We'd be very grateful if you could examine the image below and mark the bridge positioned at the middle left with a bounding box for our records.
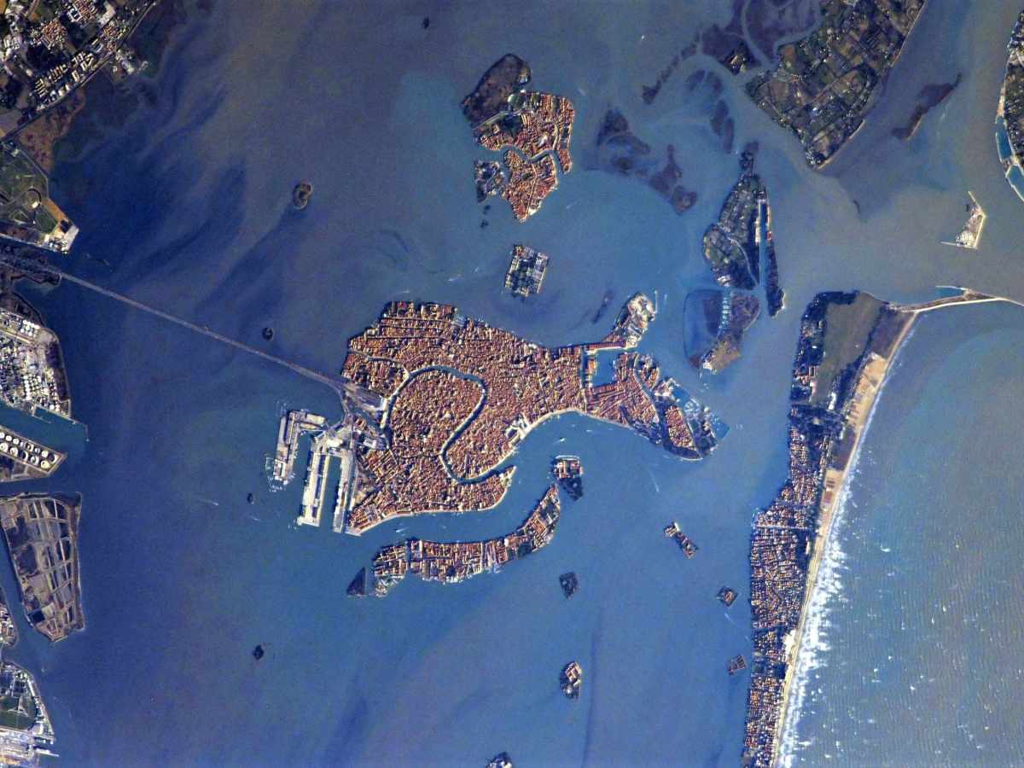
[58,273,343,390]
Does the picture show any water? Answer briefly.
Yes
